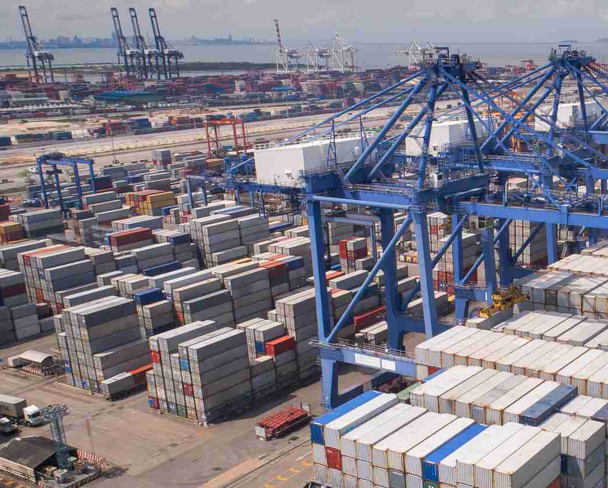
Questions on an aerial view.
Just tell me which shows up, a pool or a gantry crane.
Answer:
gantry crane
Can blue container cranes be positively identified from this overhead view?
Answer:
Yes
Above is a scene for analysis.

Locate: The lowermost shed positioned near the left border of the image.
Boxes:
[0,433,76,485]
